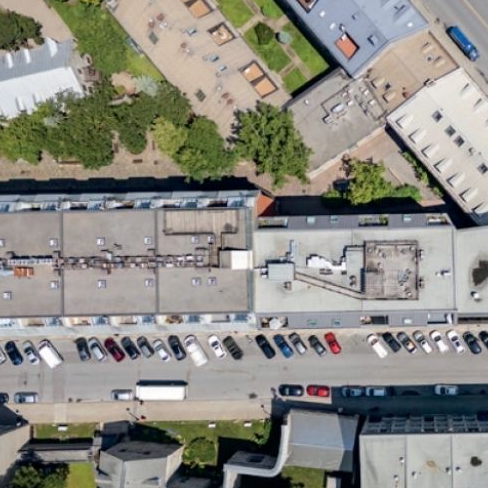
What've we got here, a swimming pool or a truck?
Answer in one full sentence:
Visible in the photo is a truck.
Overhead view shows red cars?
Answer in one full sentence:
Yes, the photo shows a red car.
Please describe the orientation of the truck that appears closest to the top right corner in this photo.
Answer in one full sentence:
The truck that appears closest to the top right corner is oriented diagonally.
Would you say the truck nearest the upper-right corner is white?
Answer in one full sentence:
No, from above the truck nearest the upper-right corner looks blue.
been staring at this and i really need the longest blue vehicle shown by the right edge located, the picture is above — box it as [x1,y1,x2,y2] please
[445,23,480,62]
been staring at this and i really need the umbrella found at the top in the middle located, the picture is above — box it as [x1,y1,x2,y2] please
[277,30,291,43]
